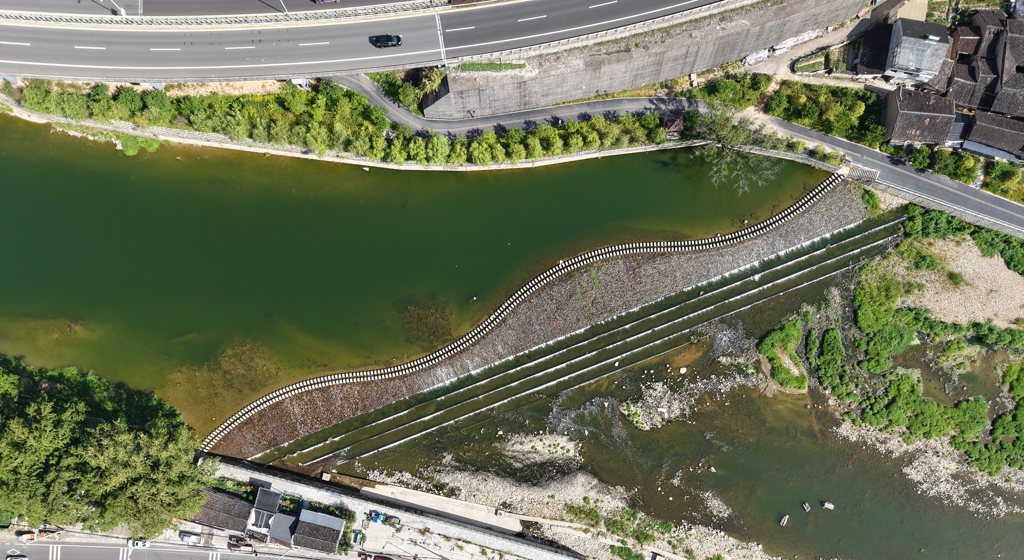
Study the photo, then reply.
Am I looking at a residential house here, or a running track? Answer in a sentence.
It is a residential house that can be seen here.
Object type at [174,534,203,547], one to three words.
vehicle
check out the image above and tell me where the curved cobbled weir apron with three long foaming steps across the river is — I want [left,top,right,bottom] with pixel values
[204,173,911,477]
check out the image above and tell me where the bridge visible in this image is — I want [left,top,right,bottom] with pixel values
[0,0,445,90]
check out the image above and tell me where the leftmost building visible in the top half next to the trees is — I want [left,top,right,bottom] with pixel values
[666,112,688,138]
